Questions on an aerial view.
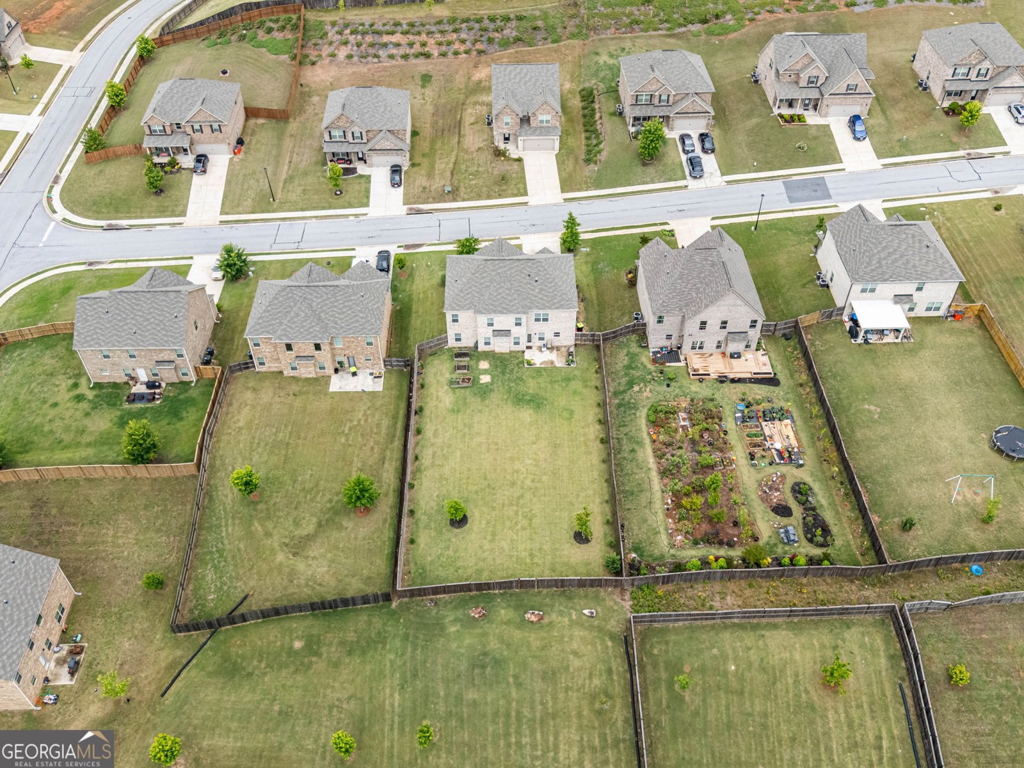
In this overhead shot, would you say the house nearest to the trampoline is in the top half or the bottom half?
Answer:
top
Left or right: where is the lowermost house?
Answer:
left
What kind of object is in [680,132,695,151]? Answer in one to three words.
car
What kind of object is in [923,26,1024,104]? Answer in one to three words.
house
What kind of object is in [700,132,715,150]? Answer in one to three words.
car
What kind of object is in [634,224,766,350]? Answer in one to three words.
house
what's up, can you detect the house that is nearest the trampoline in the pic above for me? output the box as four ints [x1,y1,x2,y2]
[812,202,966,316]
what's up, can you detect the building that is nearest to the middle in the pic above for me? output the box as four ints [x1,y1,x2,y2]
[444,237,578,350]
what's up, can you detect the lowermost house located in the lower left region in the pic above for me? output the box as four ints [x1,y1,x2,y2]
[0,550,82,707]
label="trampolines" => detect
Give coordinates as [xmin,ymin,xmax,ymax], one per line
[992,428,1024,462]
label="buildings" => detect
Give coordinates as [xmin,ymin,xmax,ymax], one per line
[0,8,26,58]
[812,202,966,316]
[923,26,1024,104]
[624,51,716,131]
[491,61,562,153]
[72,265,225,385]
[244,259,392,376]
[444,237,578,350]
[761,33,876,116]
[141,80,249,161]
[634,224,766,350]
[0,550,82,707]
[322,86,414,168]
